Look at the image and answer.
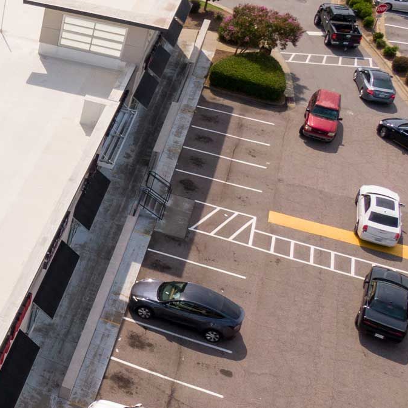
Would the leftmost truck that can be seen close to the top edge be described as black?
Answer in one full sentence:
Yes, black is the color of the leftmost truck that can be seen close to the top edge.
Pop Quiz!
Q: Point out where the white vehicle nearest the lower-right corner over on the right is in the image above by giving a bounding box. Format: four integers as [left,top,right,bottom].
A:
[353,184,408,250]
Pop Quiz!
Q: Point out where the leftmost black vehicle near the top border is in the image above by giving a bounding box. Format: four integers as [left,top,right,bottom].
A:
[320,1,363,43]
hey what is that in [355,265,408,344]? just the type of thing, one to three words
car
